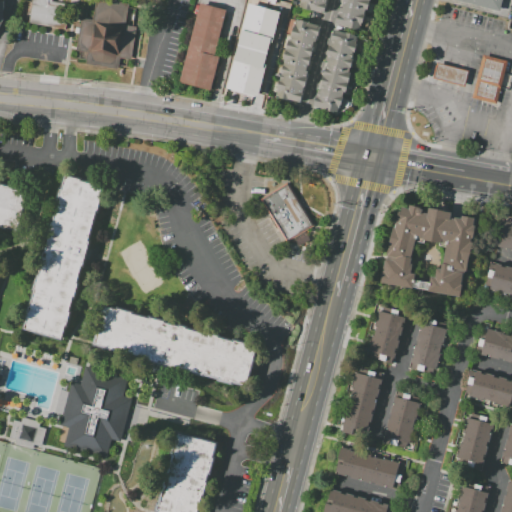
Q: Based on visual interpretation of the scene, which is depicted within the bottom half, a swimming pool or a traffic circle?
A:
swimming pool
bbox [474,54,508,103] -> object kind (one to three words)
building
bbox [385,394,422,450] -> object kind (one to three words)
house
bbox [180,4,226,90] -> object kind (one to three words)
building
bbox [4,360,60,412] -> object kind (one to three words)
swimming pool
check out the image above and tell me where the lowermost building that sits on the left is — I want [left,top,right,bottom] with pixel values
[154,434,217,512]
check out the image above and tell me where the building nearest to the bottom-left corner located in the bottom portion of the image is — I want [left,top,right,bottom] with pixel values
[10,418,47,449]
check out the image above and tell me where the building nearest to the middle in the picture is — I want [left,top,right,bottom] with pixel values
[264,184,314,246]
